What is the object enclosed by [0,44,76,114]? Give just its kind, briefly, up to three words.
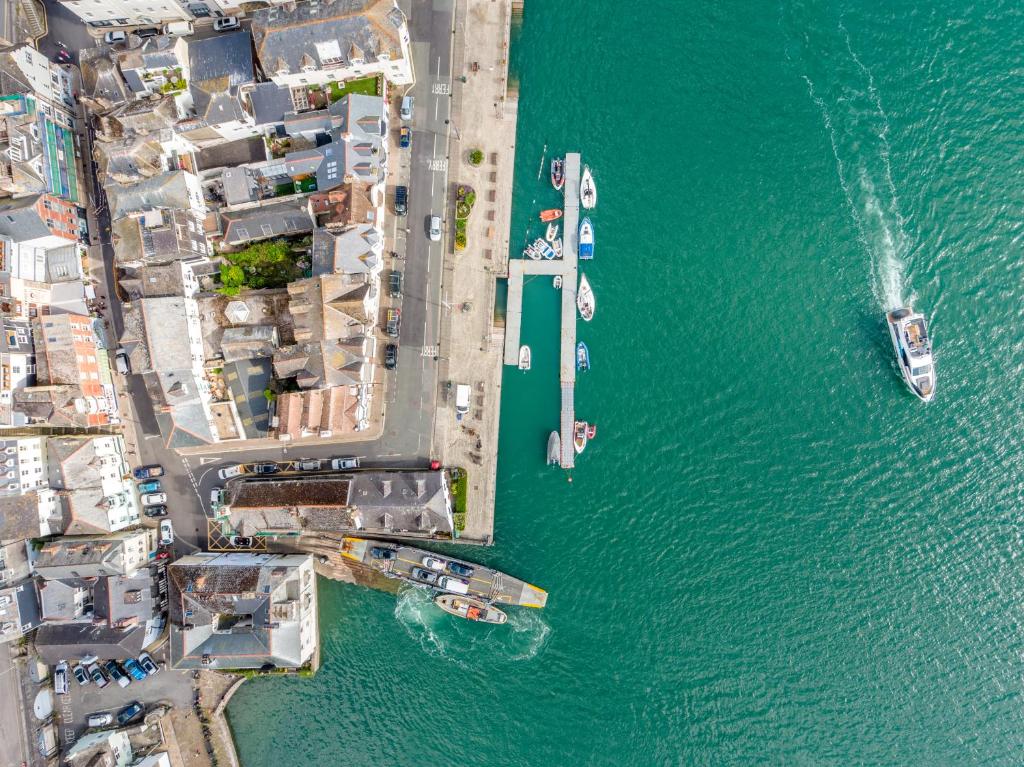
house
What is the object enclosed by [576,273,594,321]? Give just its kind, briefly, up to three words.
boat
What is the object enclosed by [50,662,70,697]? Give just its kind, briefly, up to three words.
vehicle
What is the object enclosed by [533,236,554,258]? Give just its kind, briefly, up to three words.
boat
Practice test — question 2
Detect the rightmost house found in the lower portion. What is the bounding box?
[350,467,454,534]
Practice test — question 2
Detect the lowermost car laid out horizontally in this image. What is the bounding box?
[86,711,115,726]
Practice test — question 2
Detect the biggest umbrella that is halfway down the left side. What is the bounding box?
[226,298,248,323]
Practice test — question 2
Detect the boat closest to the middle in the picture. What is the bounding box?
[519,346,531,371]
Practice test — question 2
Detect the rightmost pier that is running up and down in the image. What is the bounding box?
[504,153,580,468]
